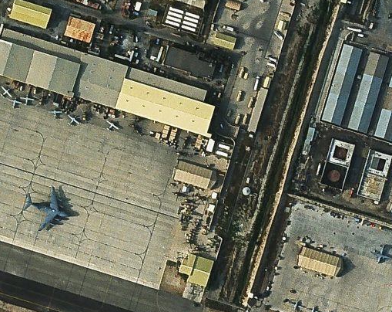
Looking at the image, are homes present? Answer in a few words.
Yes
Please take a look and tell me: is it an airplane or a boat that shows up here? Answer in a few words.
airplane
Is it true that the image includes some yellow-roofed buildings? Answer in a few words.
Yes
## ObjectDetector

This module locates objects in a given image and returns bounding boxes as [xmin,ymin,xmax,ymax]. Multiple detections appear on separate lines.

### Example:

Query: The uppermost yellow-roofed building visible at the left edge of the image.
[8,0,52,28]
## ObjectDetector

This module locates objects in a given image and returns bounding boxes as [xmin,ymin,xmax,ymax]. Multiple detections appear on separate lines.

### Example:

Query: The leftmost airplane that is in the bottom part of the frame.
[23,185,69,229]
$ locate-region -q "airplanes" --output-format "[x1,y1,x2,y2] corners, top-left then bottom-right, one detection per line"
[67,113,79,126]
[47,107,62,119]
[378,244,392,262]
[20,95,35,105]
[106,119,118,131]
[0,86,12,98]
[23,185,69,229]
[7,97,22,109]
